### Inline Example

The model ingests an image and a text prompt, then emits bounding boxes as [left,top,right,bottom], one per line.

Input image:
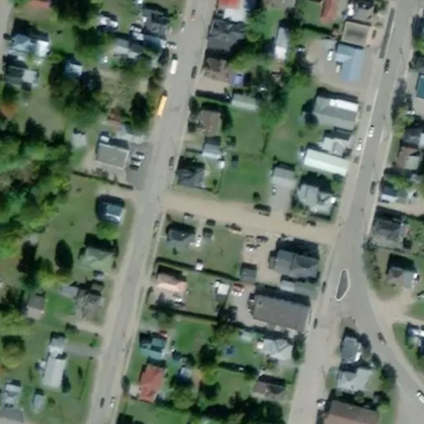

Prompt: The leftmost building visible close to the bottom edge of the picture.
[0,380,22,408]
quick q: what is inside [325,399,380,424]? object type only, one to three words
house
